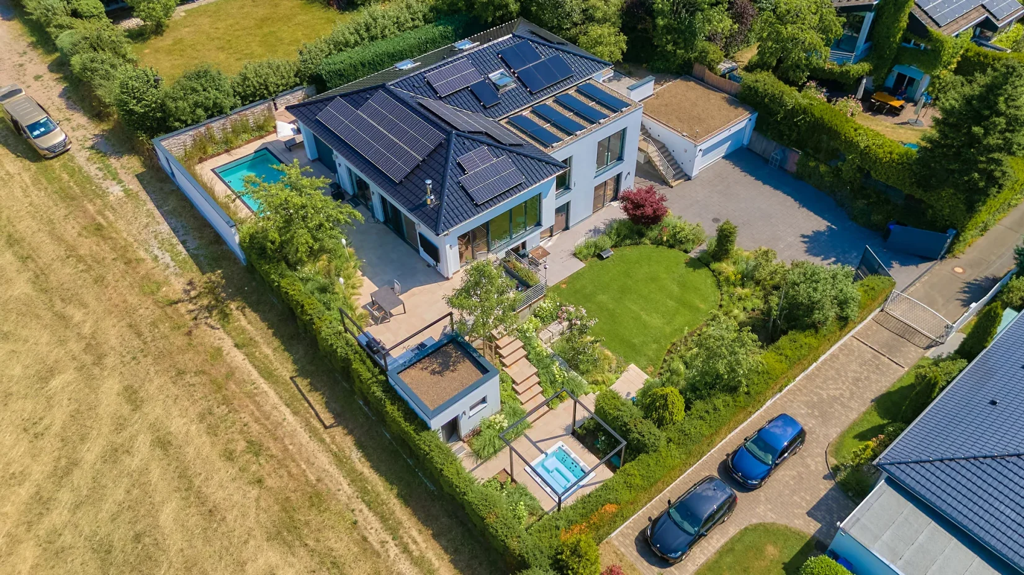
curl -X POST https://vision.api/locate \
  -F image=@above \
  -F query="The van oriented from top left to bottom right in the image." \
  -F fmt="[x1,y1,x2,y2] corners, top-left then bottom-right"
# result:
[0,95,71,164]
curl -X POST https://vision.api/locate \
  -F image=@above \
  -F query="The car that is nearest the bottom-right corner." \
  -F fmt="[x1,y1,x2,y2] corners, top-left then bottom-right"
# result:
[718,413,810,494]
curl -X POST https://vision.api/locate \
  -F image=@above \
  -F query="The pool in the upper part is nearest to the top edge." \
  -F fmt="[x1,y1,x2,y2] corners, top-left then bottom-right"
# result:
[208,145,312,217]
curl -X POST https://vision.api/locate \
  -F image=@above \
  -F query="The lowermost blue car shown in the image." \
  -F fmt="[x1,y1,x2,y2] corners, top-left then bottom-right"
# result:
[642,474,741,566]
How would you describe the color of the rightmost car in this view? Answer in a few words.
blue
